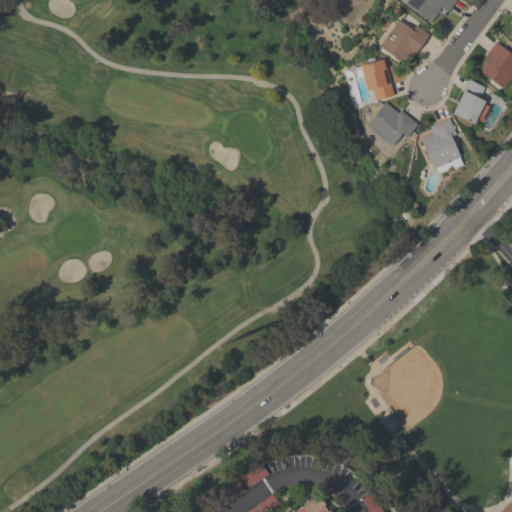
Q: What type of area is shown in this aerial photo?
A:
golf course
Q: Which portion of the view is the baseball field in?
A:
bottom right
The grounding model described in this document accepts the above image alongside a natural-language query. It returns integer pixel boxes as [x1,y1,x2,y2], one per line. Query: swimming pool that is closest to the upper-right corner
[484,104,502,128]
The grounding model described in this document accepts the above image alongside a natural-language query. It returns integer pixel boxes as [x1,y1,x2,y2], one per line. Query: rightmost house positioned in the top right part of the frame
[483,42,512,89]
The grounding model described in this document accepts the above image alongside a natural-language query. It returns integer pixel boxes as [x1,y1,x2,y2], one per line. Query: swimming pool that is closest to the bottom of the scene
[426,172,438,192]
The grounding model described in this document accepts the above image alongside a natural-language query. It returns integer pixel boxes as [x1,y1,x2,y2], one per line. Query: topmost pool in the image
[358,77,371,103]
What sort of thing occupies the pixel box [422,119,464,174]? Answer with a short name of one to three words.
house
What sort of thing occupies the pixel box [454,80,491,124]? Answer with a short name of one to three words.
house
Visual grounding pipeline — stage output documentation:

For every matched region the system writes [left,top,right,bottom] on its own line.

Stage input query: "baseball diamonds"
[372,296,512,500]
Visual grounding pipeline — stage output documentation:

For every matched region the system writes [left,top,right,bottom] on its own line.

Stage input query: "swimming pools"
[484,104,502,128]
[426,172,438,192]
[358,77,371,103]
